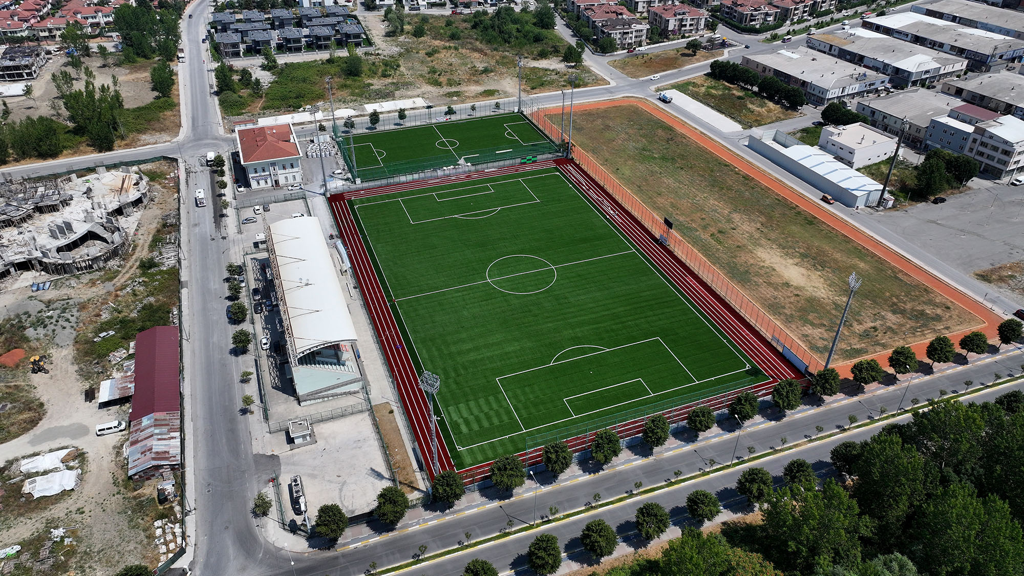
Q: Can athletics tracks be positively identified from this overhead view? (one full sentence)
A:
Yes, the frame does contain an athletics track.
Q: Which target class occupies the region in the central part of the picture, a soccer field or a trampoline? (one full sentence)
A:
Looking in the central part of the picture, you will find a soccer field.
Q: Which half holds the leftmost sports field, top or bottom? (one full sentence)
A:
The leftmost sports field is in the top half of the image.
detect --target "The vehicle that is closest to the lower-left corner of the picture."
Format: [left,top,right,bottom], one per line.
[94,420,124,437]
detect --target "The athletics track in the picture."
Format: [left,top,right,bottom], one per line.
[327,156,811,498]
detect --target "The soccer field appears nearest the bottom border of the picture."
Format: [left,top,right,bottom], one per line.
[346,166,772,471]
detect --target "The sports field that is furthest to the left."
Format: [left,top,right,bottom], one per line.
[342,112,554,179]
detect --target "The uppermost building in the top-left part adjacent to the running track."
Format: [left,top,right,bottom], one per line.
[235,121,303,189]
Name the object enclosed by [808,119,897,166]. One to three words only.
building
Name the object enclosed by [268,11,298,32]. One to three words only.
house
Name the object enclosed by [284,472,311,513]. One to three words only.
truck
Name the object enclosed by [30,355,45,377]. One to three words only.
work vehicle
